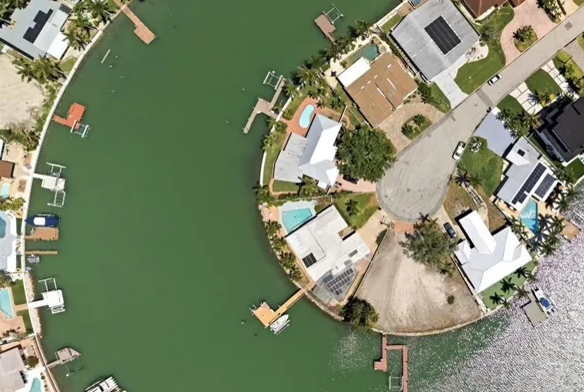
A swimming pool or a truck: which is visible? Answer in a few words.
swimming pool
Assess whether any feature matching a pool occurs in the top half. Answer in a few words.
Yes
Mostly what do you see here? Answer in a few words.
water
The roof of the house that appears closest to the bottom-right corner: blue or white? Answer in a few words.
white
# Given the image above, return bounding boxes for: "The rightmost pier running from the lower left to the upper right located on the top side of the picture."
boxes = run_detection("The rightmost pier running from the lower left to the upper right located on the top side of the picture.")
[243,77,287,134]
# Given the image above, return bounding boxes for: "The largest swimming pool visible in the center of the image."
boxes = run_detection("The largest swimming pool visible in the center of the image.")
[282,207,313,235]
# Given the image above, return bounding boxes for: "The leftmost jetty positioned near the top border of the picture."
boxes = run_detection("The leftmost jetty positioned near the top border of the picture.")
[121,3,157,45]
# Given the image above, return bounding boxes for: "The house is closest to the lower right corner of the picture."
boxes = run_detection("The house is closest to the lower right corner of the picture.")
[454,211,532,293]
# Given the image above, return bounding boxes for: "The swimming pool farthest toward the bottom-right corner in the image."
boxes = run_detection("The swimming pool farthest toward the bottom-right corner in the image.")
[518,197,540,236]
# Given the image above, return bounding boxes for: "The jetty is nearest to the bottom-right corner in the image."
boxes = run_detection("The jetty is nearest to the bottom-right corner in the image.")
[521,286,548,328]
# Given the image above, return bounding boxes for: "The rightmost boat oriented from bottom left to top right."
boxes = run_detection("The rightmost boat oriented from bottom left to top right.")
[268,315,289,330]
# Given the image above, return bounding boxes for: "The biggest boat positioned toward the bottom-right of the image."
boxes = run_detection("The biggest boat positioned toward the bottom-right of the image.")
[536,289,554,315]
